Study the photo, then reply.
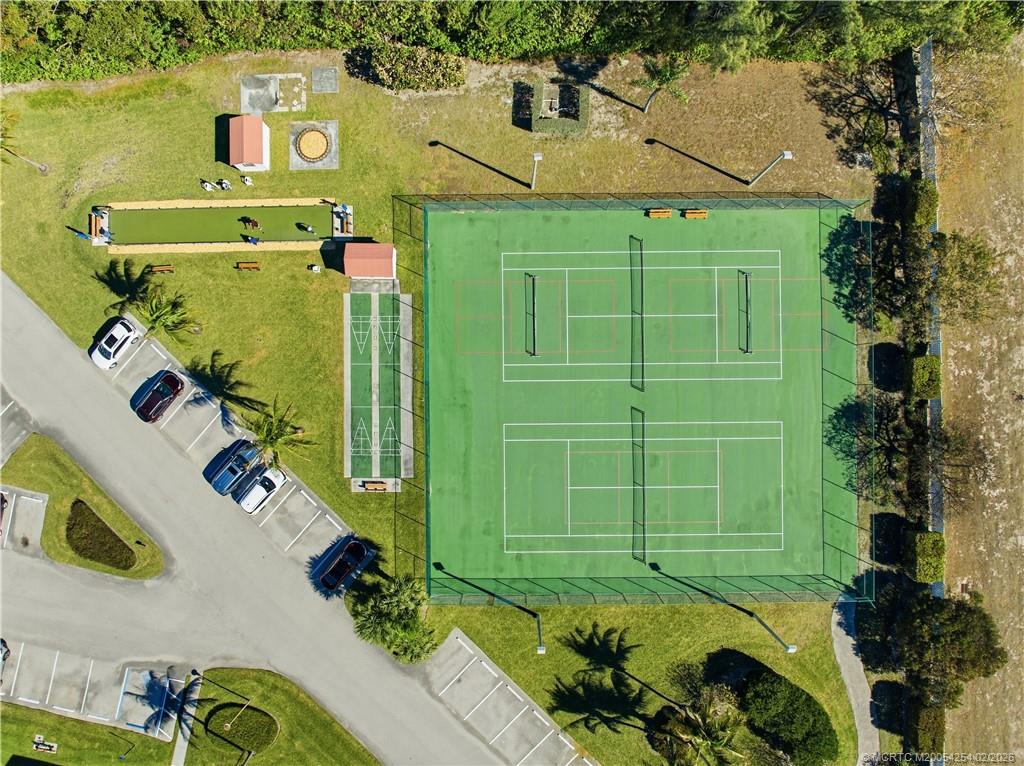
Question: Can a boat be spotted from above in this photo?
No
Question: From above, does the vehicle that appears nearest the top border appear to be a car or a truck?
car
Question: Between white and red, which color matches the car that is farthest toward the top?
white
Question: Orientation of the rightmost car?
on a diagonal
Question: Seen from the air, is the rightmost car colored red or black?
black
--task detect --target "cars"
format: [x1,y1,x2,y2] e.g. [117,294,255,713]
[240,467,288,518]
[319,542,367,593]
[212,442,262,495]
[134,372,184,423]
[0,492,8,524]
[88,320,138,372]
[0,640,10,685]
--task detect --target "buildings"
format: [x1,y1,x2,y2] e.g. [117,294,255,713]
[229,112,270,171]
[344,243,398,280]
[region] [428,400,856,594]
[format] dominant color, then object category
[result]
green tennis court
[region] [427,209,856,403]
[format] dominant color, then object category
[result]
green tennis court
